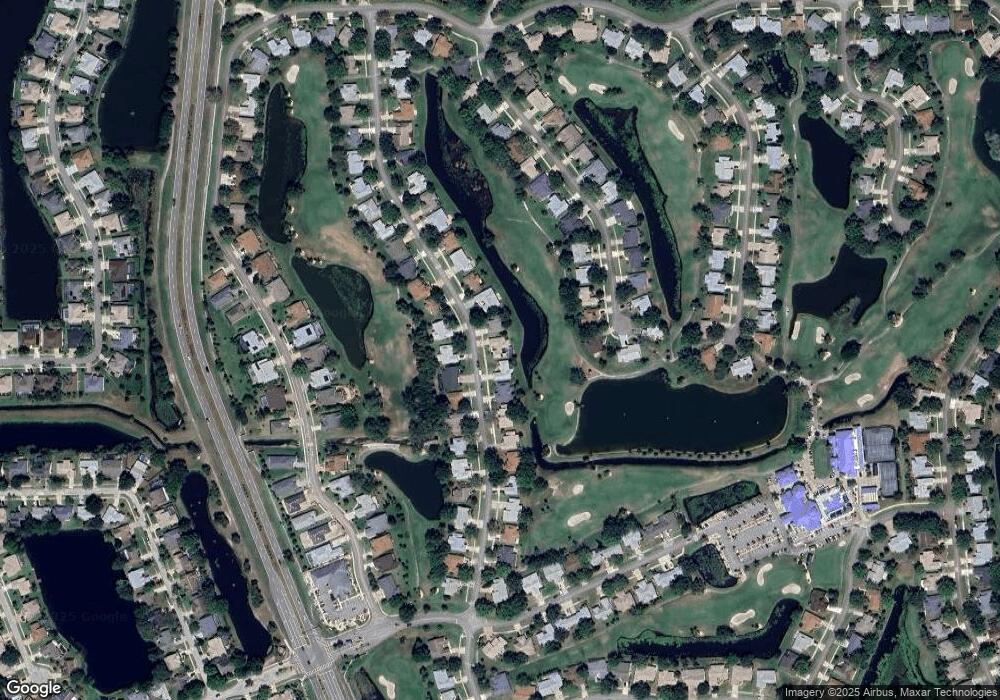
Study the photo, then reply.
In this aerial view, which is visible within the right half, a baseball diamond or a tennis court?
tennis court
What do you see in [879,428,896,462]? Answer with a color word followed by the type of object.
gray tennis court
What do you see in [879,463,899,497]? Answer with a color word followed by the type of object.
gray tennis court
